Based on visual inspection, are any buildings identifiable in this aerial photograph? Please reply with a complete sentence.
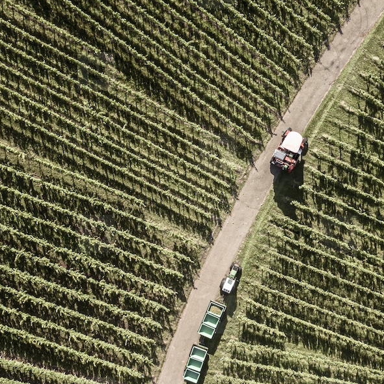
No, the scene contains no building.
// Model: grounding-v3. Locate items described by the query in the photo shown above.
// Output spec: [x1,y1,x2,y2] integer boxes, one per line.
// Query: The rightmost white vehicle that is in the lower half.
[219,260,242,295]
